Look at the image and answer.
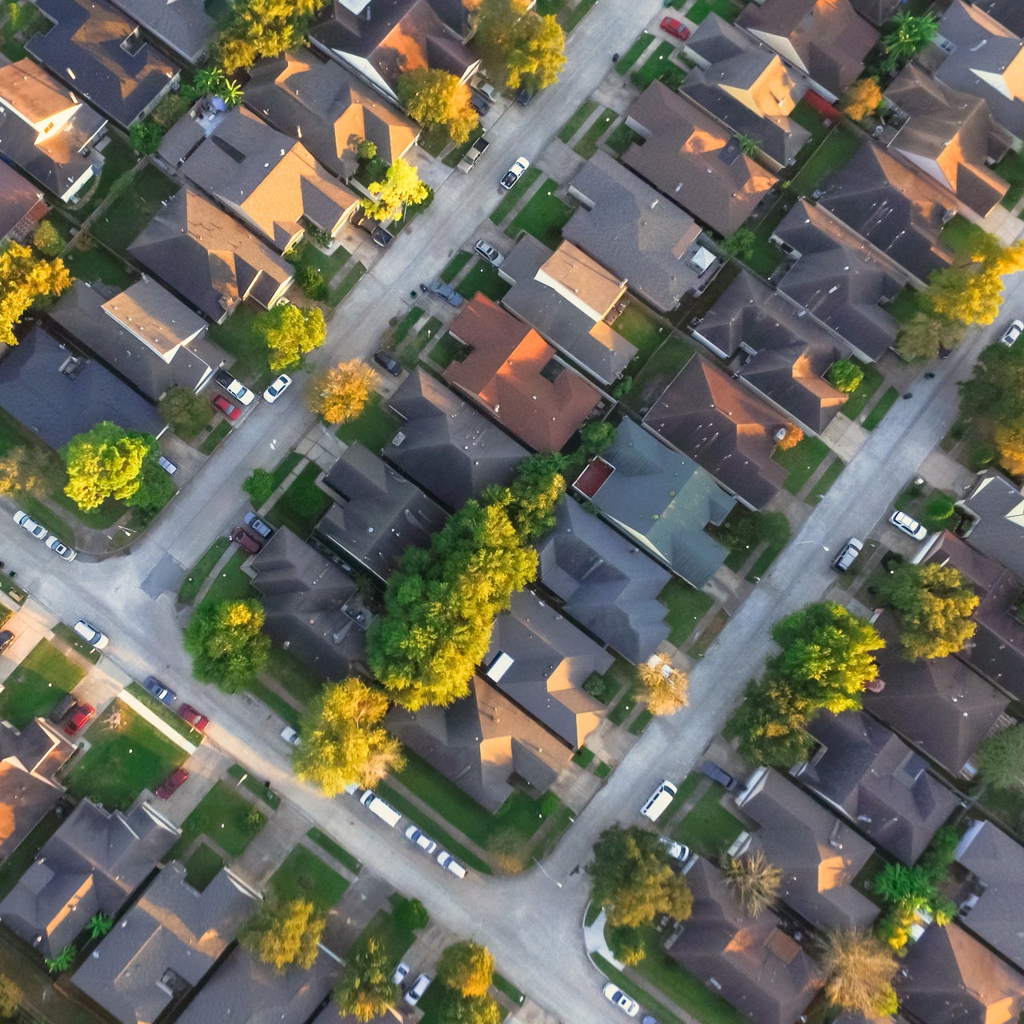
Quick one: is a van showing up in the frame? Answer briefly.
Yes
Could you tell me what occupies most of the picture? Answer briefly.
buildings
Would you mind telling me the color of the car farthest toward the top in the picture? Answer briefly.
red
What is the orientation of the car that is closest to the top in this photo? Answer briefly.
on a diagonal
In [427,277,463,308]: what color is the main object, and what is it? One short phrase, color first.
blue car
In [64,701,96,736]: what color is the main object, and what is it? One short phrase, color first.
red car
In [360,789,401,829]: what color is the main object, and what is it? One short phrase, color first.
white van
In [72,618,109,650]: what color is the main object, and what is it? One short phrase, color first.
white car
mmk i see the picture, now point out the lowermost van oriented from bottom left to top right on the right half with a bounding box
[639,779,676,822]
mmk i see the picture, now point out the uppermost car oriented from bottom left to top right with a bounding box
[509,79,541,113]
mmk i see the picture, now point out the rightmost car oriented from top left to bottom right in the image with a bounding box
[889,509,927,541]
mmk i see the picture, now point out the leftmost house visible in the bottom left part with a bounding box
[0,706,83,874]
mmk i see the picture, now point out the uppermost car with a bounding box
[657,13,693,45]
